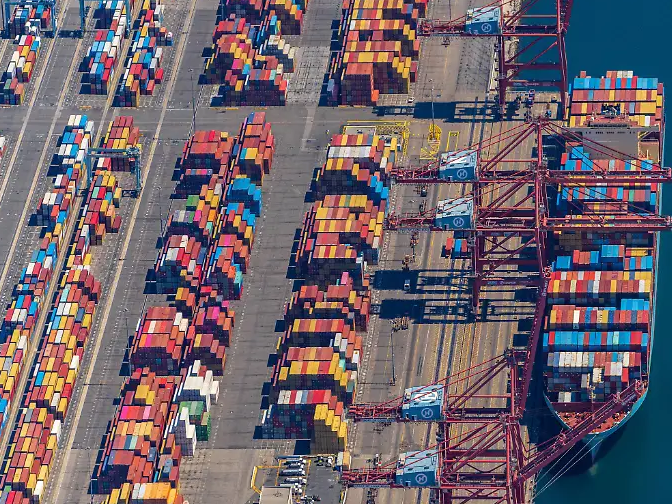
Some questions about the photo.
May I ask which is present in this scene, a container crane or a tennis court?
container crane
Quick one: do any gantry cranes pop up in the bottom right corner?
Yes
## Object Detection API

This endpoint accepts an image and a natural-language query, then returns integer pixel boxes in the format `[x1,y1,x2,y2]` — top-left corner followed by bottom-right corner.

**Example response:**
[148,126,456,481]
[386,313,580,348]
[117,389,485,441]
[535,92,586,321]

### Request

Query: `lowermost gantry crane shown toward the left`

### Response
[85,144,145,198]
